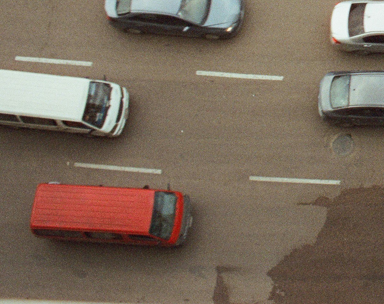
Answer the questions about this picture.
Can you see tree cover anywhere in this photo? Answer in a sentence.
No, there is no tree cover in the image.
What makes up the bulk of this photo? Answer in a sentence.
The scene is dominated by paved ground.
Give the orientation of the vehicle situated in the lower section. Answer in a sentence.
The vehicle situated in the lower section is oriented horizontally.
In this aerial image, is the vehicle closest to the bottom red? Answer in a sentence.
Yes, the vehicle closest to the bottom is indeed red.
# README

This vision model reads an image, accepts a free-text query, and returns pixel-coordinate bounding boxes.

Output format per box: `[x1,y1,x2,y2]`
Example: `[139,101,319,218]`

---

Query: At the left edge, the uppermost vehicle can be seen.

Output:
[0,71,129,138]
